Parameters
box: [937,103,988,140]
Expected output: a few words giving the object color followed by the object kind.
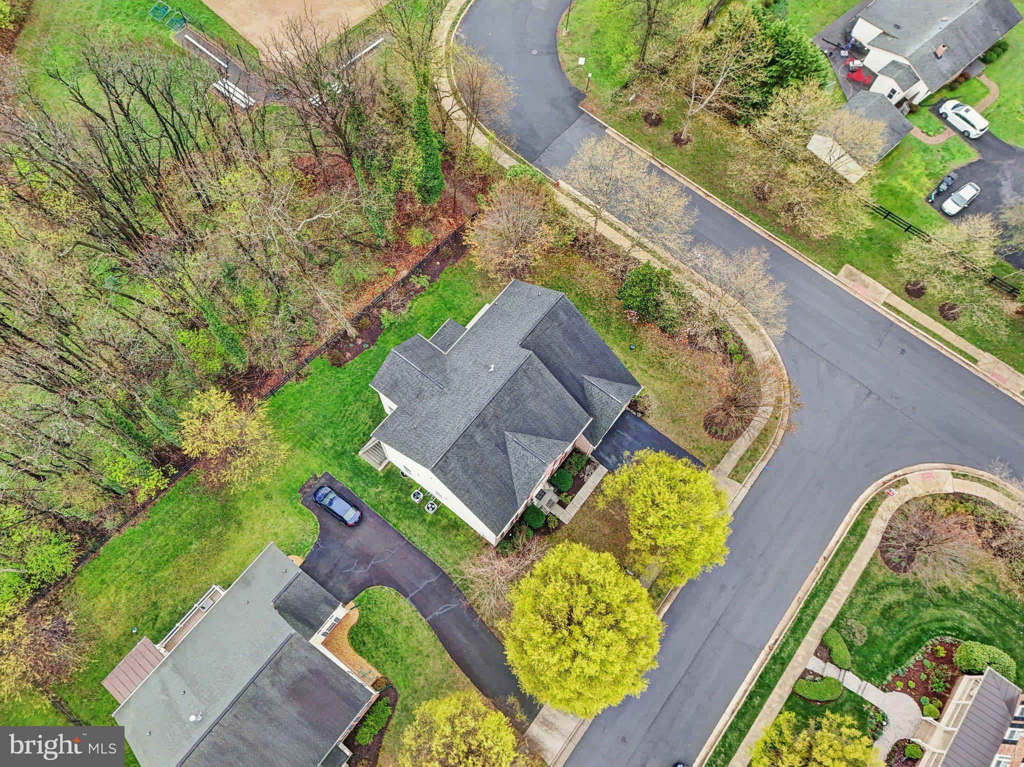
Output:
white car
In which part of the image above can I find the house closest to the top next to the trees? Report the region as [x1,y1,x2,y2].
[852,0,1023,114]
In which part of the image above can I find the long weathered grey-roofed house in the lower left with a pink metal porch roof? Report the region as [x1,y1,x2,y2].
[107,542,378,767]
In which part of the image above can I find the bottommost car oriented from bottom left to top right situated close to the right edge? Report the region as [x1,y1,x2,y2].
[938,181,981,218]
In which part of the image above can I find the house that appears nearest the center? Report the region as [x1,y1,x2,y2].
[358,279,645,545]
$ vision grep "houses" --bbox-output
[908,663,1024,767]
[852,0,1023,114]
[107,542,378,767]
[358,279,645,545]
